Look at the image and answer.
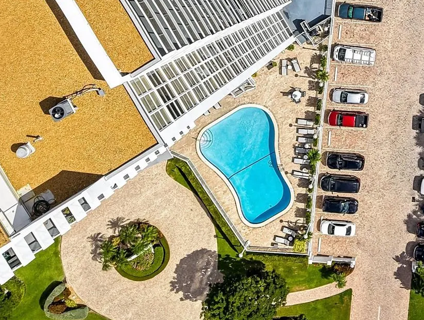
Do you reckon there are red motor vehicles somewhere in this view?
Yes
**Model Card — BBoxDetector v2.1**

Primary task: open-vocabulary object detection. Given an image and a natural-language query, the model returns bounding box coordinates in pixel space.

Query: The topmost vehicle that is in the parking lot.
[337,2,384,21]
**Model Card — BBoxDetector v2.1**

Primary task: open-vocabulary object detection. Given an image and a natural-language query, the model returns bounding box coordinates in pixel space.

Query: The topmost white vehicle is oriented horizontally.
[332,46,377,65]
